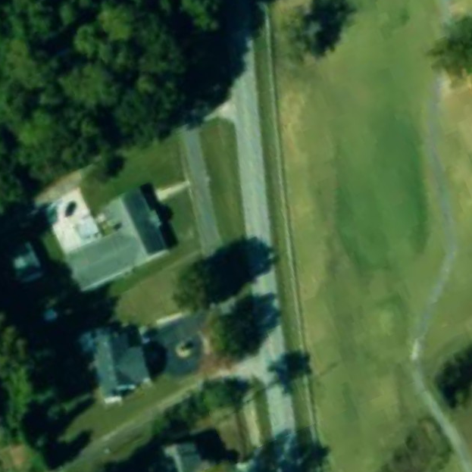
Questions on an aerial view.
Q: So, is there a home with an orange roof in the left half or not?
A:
No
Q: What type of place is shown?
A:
golf course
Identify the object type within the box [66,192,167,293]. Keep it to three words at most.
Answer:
house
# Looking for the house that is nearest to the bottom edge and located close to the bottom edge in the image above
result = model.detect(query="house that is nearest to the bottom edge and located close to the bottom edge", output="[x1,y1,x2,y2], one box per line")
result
[153,442,189,472]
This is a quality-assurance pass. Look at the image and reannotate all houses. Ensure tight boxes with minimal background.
[66,192,167,293]
[153,442,189,472]
[95,330,151,400]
